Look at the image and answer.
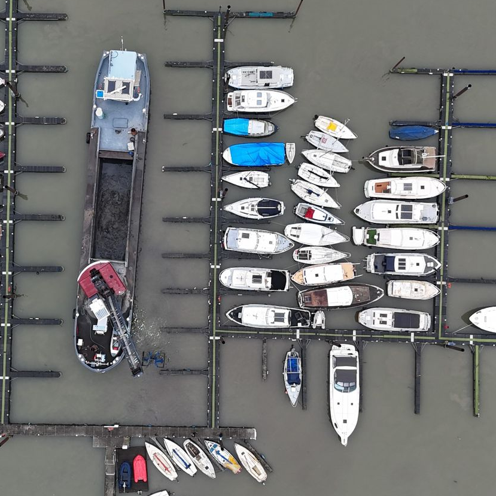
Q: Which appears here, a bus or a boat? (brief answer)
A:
boat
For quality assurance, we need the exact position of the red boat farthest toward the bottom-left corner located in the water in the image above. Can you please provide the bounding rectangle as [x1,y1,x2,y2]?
[134,454,147,484]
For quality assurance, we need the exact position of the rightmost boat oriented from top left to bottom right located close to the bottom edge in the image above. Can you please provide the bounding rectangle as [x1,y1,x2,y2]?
[235,443,268,485]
